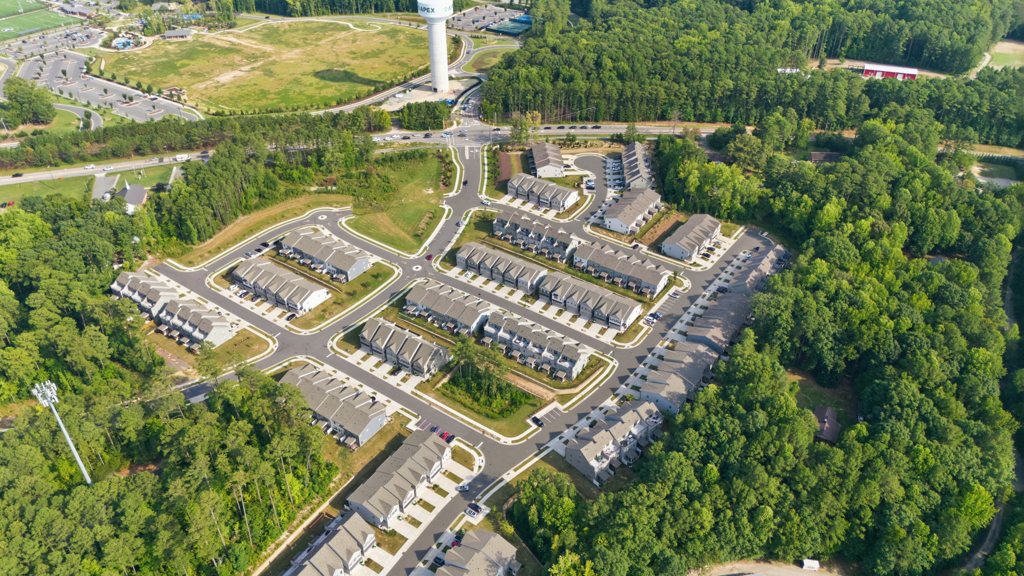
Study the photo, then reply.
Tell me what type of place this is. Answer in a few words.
residential area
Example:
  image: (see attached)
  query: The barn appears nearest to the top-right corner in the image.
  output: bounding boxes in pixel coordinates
[859,65,921,80]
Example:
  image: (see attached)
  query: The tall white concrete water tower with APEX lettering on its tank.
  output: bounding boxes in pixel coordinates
[416,0,453,95]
